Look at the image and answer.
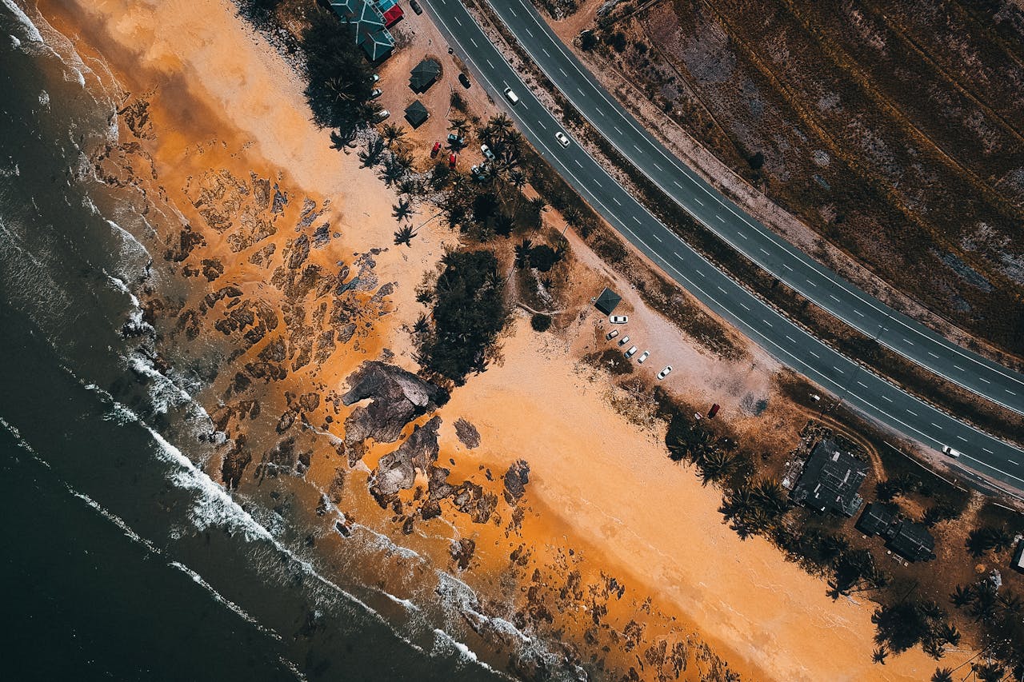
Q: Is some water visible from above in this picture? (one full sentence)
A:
Yes, some water is visible.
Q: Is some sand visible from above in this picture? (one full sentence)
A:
Yes, sand can be seen from above here.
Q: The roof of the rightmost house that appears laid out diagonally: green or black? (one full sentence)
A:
From above, the roof of the rightmost house that appears laid out diagonally appears black.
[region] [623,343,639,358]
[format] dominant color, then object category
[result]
white car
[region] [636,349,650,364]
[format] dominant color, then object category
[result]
white car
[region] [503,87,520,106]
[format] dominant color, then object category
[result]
white vehicle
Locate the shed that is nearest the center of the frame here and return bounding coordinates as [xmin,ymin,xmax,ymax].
[595,287,621,314]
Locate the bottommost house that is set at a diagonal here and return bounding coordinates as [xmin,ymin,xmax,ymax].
[853,501,935,563]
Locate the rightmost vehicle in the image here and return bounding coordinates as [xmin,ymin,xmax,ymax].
[939,445,961,459]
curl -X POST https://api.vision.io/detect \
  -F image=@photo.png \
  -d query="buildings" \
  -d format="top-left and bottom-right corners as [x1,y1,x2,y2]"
[404,99,428,126]
[1007,537,1024,569]
[853,501,935,563]
[595,287,621,314]
[785,438,868,522]
[327,0,394,63]
[412,57,441,90]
